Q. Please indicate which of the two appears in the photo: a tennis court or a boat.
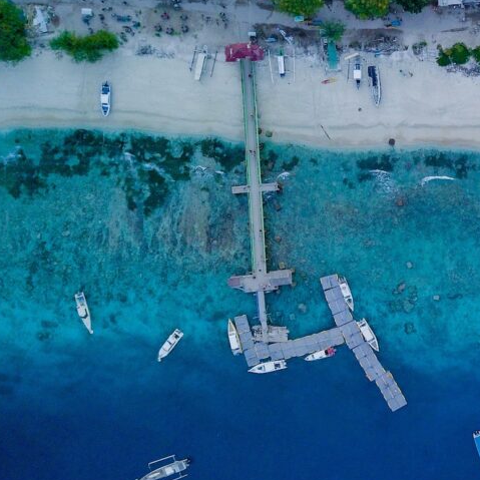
boat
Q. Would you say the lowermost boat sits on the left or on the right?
left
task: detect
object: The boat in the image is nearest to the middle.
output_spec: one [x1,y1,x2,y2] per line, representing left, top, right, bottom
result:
[228,319,242,355]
